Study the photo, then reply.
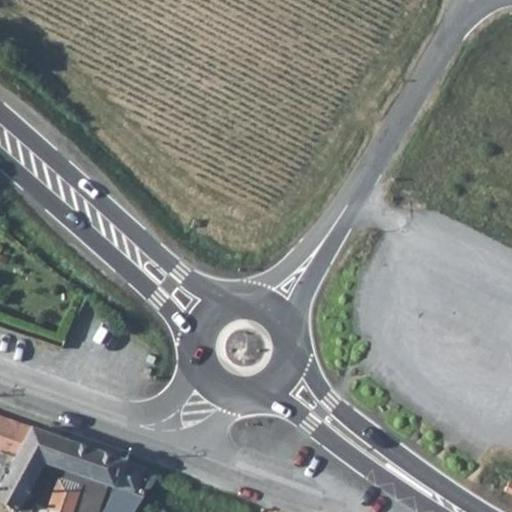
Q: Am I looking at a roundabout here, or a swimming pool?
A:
roundabout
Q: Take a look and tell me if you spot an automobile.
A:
Yes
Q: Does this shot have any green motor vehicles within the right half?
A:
No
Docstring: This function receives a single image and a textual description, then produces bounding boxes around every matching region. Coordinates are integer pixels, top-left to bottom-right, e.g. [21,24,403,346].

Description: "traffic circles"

[178,281,311,414]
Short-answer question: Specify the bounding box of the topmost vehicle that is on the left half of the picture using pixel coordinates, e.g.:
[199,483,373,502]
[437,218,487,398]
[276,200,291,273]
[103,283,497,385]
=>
[78,178,99,199]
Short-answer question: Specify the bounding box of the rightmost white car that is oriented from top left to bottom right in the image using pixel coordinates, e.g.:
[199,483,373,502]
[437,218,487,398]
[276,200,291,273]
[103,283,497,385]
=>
[271,400,294,418]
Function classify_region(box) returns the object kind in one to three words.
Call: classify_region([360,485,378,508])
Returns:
car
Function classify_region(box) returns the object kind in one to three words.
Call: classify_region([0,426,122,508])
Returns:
house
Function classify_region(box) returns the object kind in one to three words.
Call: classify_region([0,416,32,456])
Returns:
house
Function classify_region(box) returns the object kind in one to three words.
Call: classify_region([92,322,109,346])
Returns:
vehicle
